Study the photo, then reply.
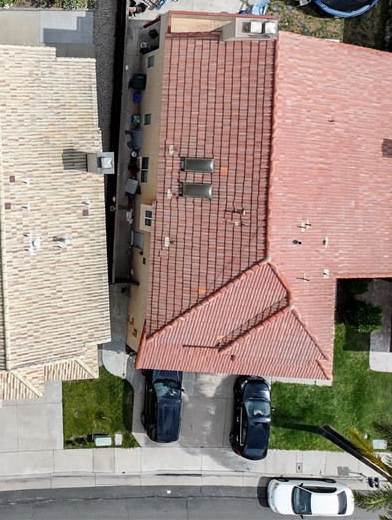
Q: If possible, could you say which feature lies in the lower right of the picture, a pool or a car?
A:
car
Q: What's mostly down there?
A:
buildings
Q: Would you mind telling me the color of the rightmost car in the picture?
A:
white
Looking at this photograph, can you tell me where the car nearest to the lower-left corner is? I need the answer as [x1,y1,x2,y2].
[145,370,189,441]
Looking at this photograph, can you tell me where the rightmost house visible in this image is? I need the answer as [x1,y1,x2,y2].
[126,10,392,381]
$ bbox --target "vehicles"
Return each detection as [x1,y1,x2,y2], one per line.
[145,370,189,441]
[264,475,355,520]
[229,375,276,460]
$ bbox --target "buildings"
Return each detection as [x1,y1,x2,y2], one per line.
[0,43,116,410]
[126,10,392,381]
